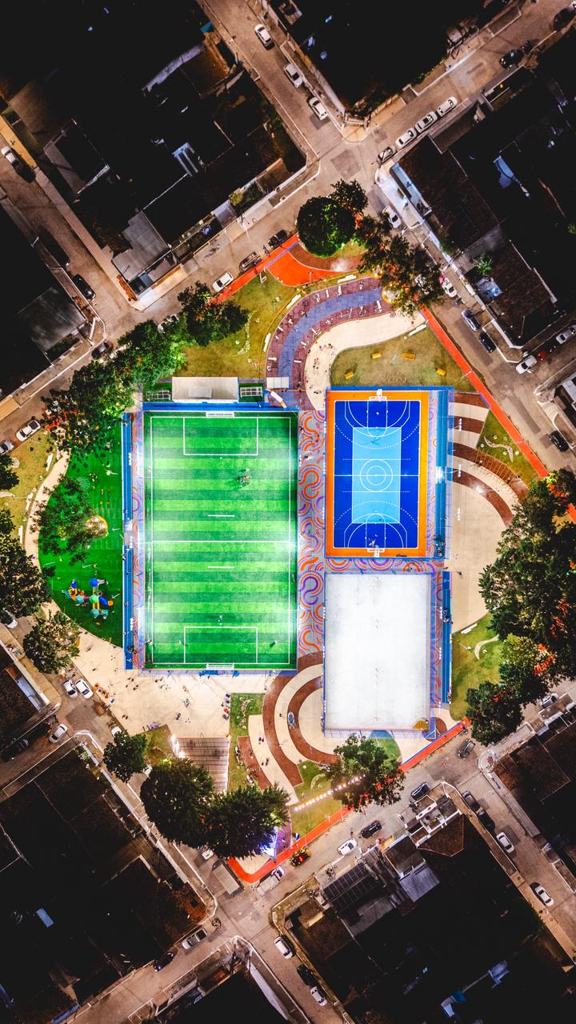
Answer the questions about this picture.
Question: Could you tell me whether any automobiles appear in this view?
Yes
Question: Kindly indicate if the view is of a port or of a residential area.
residential area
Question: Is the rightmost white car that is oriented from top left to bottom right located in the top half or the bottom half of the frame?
bottom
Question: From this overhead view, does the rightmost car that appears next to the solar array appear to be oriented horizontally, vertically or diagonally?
diagonally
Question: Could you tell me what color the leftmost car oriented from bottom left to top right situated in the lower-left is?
black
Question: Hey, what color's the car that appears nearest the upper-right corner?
black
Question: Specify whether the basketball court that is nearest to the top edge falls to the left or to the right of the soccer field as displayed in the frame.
on its right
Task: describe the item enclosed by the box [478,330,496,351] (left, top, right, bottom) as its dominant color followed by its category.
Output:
black car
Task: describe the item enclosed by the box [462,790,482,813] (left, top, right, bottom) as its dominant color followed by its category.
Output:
gray car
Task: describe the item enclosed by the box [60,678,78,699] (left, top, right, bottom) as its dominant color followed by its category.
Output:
white car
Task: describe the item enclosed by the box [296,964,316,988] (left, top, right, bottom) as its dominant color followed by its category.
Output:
black car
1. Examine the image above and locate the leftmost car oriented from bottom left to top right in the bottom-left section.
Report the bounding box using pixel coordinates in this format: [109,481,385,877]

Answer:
[2,740,27,760]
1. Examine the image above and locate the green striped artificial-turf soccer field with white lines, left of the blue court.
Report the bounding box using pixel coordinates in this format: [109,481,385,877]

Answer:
[144,412,298,670]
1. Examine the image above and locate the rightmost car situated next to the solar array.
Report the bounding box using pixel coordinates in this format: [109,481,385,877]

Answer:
[360,820,383,841]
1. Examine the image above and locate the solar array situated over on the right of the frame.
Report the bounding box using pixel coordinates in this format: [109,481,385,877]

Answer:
[326,852,388,909]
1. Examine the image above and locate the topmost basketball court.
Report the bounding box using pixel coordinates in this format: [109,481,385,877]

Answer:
[326,390,429,557]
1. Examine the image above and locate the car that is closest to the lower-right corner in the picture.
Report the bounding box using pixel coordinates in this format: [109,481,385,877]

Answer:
[534,884,554,907]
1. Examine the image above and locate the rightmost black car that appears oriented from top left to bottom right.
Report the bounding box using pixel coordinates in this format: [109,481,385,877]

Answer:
[549,429,570,452]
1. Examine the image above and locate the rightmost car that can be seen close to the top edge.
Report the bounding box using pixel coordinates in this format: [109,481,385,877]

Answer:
[552,8,576,30]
